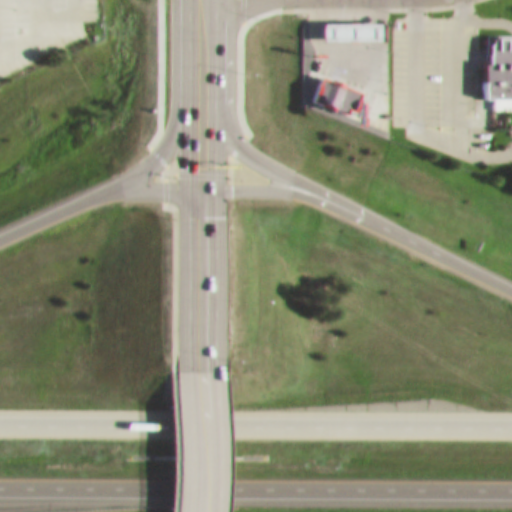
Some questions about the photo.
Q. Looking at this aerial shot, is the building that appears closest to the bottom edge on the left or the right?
right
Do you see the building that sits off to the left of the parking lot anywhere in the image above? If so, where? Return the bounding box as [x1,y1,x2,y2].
[315,81,362,113]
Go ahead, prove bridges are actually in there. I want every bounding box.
[172,355,234,512]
